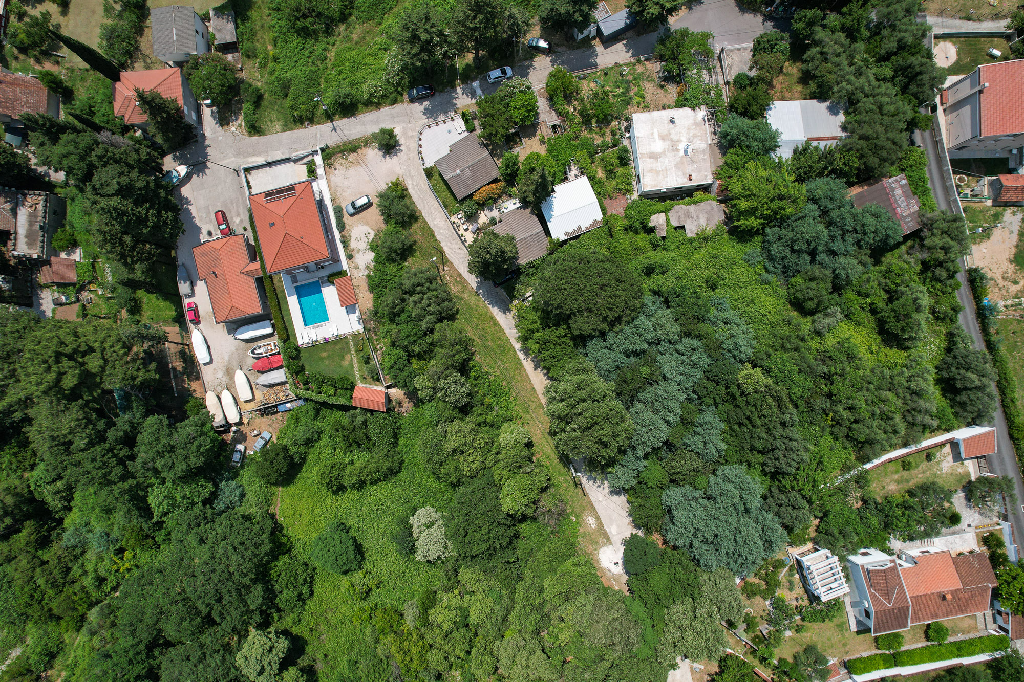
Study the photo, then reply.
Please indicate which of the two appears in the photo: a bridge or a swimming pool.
swimming pool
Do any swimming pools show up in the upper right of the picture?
No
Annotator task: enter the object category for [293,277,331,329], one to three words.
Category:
swimming pool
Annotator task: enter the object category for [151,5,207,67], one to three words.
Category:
house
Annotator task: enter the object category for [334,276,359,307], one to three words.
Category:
building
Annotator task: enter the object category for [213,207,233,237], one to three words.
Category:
car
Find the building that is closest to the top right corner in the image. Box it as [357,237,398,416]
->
[943,59,1024,150]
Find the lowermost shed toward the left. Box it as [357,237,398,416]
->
[352,386,387,412]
